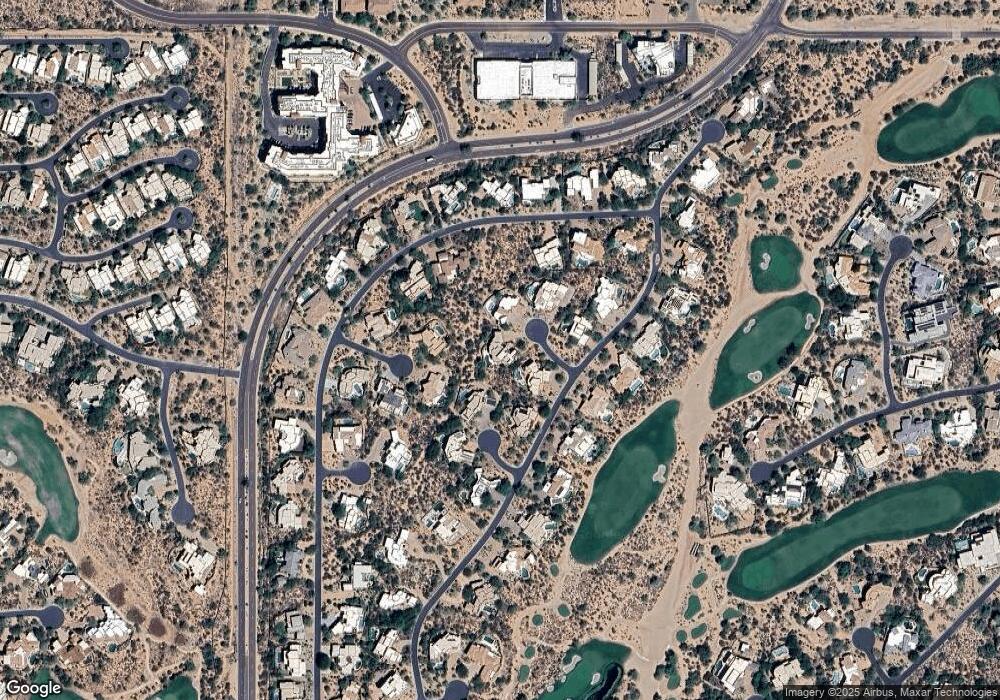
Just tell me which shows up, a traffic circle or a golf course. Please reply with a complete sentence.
The image shows a golf course.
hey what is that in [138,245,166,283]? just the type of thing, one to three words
house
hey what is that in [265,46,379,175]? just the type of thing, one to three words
building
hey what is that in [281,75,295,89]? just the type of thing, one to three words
swimming pool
